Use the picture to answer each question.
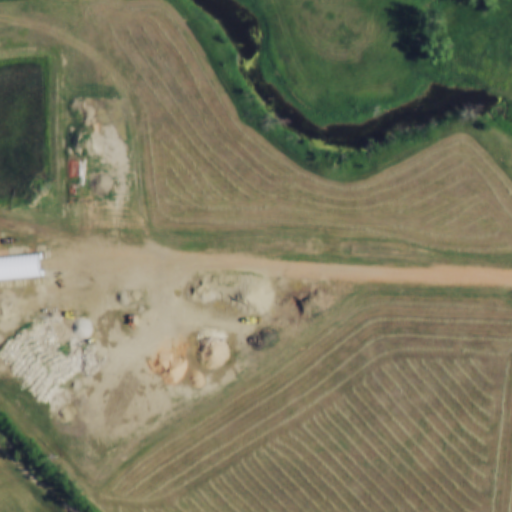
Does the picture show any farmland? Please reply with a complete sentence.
Yes, farmland shows up in the scene.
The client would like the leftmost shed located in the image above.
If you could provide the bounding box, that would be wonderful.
[0,250,46,278]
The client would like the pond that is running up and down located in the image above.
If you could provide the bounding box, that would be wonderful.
[0,62,46,202]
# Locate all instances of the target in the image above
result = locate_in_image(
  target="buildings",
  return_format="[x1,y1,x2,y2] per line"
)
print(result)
[0,250,46,278]
[69,160,78,178]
